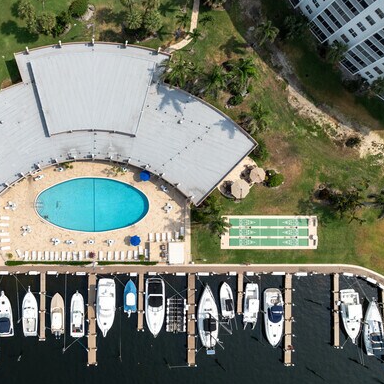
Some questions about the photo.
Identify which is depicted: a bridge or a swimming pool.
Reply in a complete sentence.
There is a swimming pool in the scene.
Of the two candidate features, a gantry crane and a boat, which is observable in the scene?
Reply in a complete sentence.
This aerial view contains a boat.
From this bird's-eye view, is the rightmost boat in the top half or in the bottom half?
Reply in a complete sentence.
The rightmost boat sits in the bottom half of the picture.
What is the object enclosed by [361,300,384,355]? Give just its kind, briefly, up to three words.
boat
